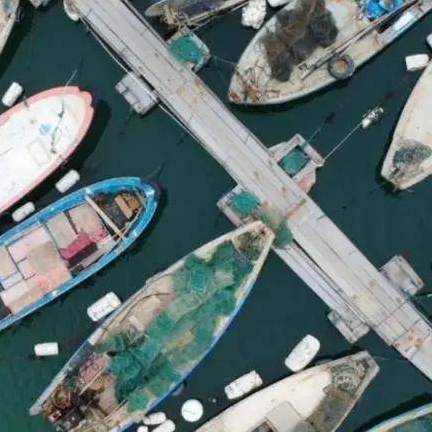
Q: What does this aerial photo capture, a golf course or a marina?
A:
marina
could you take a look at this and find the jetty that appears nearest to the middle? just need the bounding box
[216,187,271,228]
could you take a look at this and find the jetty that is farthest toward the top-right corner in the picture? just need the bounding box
[266,133,323,185]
